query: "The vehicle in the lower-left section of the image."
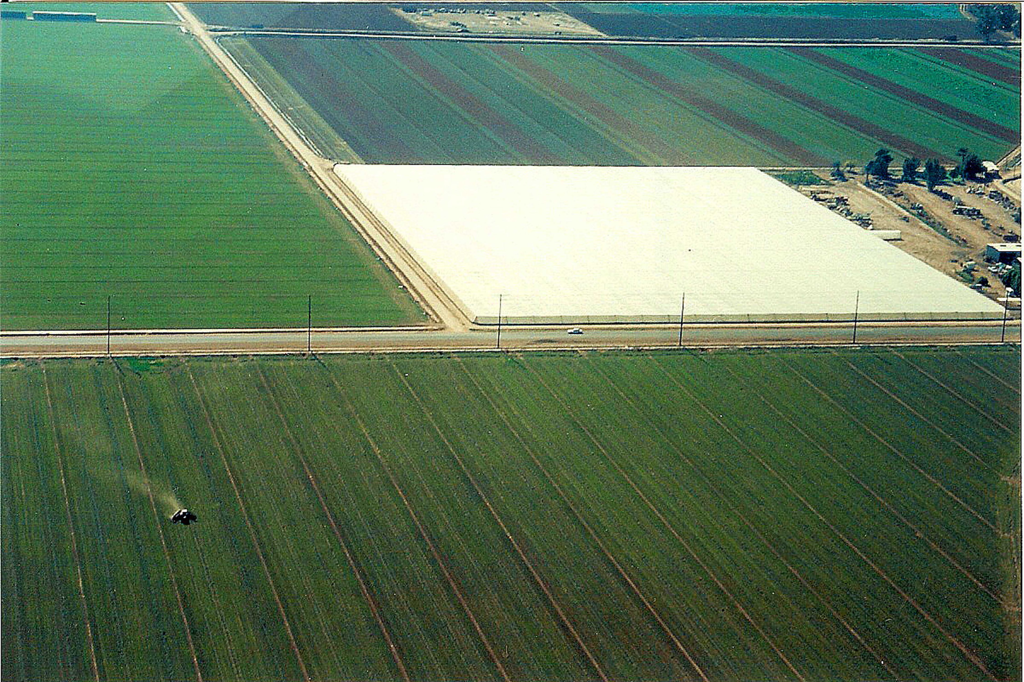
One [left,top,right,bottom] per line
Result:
[167,511,195,526]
